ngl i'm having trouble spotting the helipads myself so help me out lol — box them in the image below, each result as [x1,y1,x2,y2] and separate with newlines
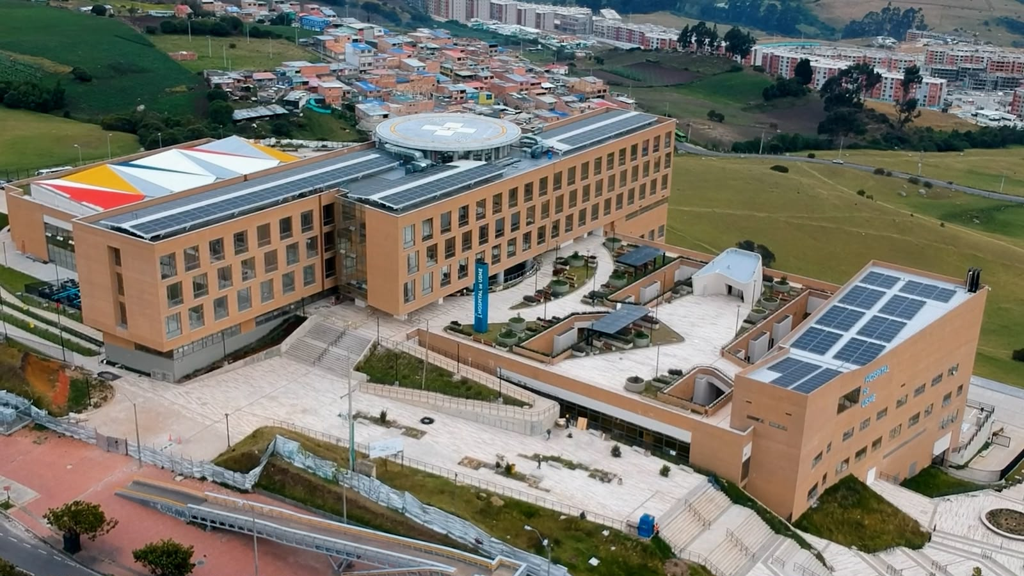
[372,114,522,169]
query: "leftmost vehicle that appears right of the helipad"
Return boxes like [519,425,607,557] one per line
[673,129,701,142]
